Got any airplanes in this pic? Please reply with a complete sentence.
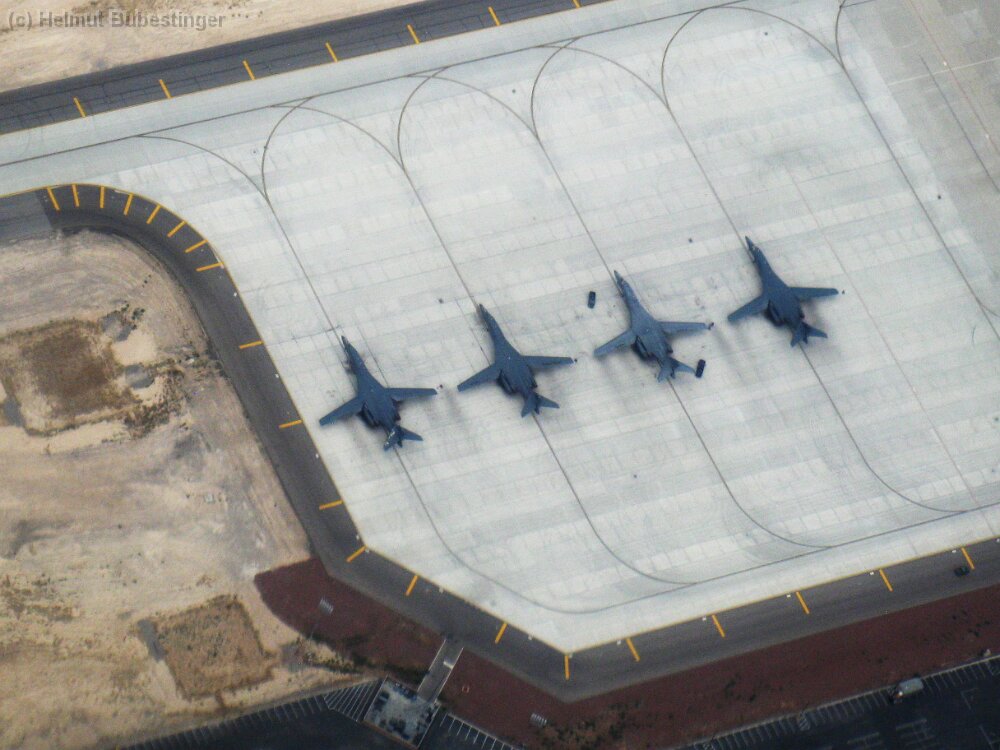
Yes, you can see an airplane in this photo.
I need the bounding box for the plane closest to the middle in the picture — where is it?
[459,304,576,416]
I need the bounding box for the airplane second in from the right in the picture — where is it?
[596,270,710,381]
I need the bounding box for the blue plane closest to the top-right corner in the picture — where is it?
[728,237,840,345]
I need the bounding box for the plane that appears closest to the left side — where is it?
[319,337,438,449]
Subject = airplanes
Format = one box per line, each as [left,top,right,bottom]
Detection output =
[459,304,576,416]
[728,237,840,345]
[596,270,710,381]
[319,337,438,449]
